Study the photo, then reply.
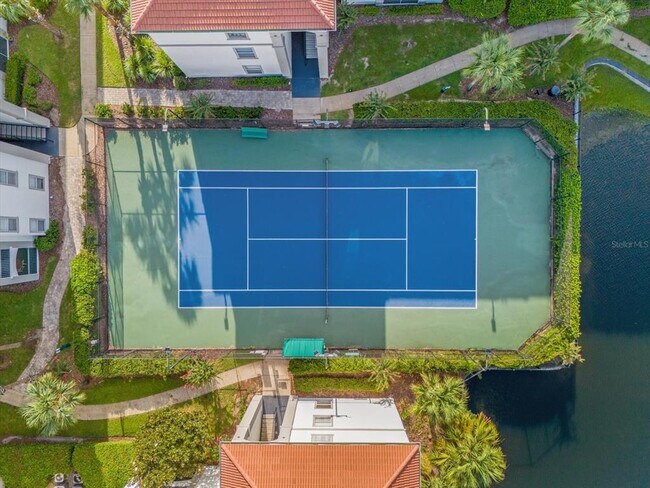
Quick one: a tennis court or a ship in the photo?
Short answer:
tennis court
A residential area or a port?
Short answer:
residential area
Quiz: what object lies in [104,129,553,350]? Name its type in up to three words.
tennis court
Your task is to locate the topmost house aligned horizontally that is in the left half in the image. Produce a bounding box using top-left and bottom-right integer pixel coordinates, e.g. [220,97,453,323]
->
[130,0,341,97]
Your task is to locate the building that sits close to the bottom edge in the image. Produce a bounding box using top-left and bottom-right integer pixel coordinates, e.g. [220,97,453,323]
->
[218,395,422,488]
